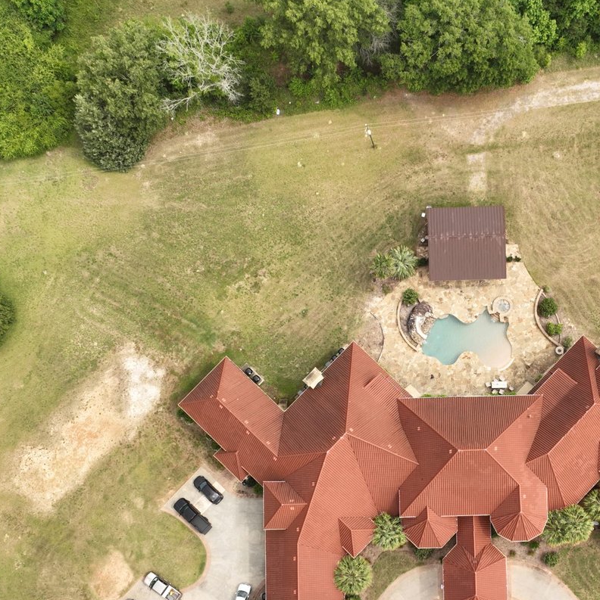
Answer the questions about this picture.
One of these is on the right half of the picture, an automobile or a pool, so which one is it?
pool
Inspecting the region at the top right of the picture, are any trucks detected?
No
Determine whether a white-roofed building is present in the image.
No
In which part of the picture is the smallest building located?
right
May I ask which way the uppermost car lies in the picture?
diagonally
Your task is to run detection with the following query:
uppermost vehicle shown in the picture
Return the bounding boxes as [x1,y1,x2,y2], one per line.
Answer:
[194,475,227,508]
